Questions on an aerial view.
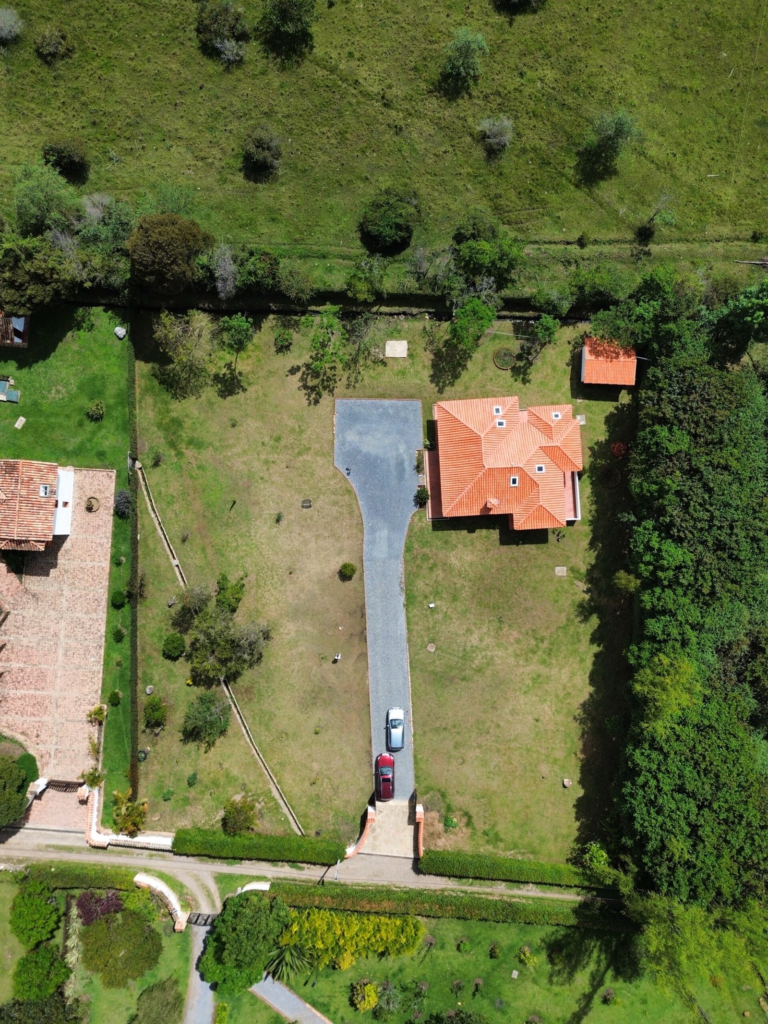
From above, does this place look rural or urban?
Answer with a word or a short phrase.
rural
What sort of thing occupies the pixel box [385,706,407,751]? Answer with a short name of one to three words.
car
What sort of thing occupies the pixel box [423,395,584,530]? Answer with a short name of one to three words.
house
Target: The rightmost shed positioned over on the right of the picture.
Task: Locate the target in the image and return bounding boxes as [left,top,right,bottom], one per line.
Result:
[576,338,650,386]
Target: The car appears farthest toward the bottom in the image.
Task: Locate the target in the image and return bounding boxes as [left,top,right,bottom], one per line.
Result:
[374,752,397,802]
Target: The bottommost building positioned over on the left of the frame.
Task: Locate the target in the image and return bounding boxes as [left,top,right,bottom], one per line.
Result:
[0,459,77,551]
